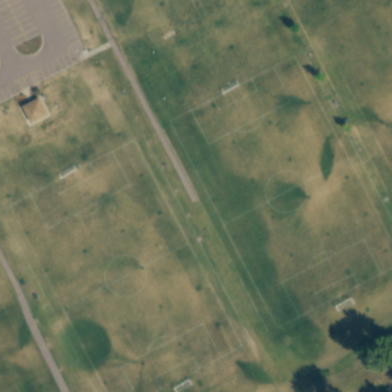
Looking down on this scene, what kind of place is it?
sports ground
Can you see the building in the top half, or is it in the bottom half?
top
